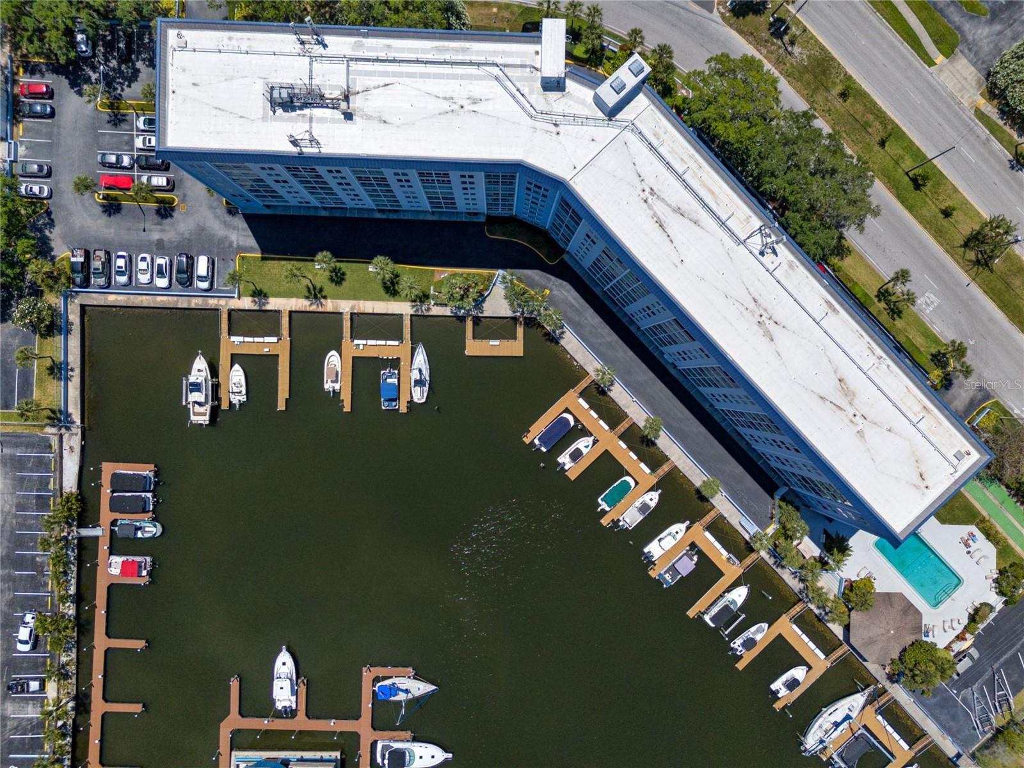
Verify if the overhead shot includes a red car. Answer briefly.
Yes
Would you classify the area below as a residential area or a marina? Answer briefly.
marina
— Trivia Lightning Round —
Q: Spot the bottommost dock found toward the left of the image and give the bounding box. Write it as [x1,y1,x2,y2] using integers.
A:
[219,665,413,768]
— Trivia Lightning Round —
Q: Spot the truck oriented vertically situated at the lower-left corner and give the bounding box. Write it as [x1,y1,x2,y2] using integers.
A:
[13,609,38,654]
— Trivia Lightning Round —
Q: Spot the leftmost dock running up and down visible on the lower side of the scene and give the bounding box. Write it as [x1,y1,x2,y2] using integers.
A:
[88,461,155,768]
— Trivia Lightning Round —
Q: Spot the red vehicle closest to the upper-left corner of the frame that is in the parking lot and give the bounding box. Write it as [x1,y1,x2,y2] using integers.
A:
[17,80,54,100]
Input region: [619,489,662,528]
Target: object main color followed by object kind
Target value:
white boat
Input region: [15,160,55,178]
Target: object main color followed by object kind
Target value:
gray car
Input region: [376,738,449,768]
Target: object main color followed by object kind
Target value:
white boat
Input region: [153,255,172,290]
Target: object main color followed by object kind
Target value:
white car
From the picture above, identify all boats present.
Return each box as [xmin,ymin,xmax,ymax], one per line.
[619,489,662,528]
[377,357,403,410]
[409,343,429,403]
[535,414,583,451]
[112,519,162,538]
[767,667,812,697]
[376,673,438,716]
[324,346,342,397]
[106,556,161,580]
[228,361,246,407]
[376,738,449,768]
[270,648,295,716]
[900,763,920,768]
[231,745,343,768]
[656,544,699,587]
[598,465,635,510]
[184,350,211,430]
[108,471,163,493]
[799,690,885,768]
[557,431,594,469]
[729,625,771,654]
[641,521,694,564]
[107,493,163,515]
[705,573,751,628]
